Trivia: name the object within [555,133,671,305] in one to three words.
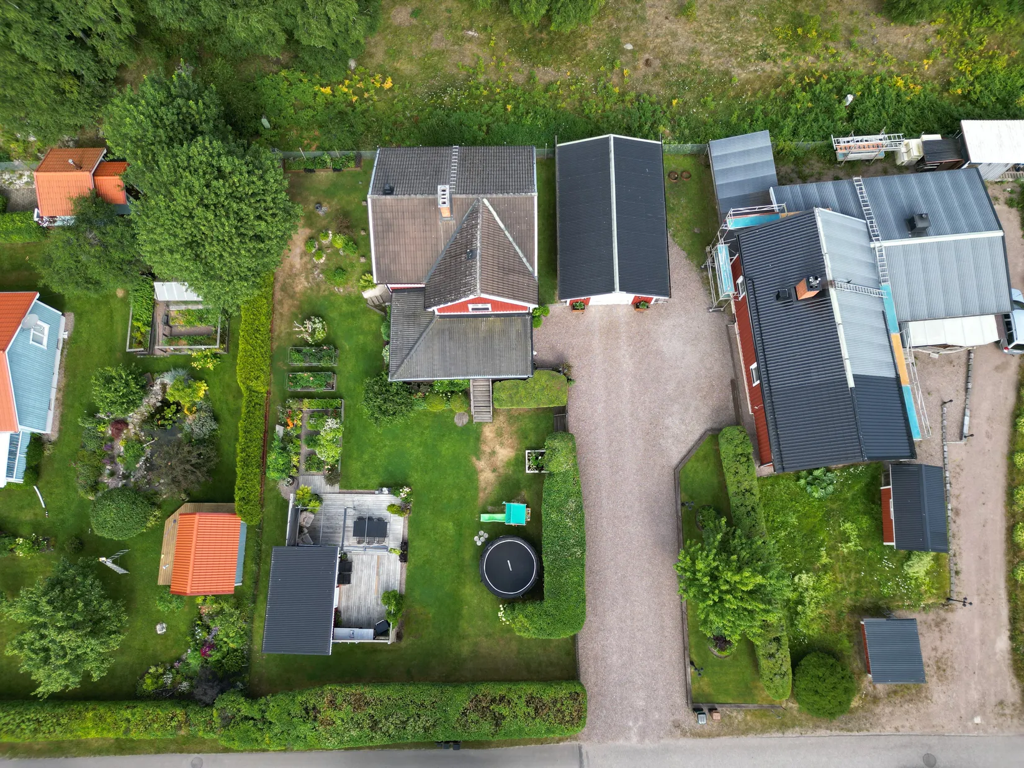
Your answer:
building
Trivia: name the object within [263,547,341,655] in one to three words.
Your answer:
shed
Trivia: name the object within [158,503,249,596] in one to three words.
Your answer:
building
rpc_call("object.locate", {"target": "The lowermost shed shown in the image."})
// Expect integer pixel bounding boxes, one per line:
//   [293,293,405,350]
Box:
[851,618,926,683]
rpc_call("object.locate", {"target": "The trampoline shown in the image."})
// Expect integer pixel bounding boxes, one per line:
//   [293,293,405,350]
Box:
[477,533,543,603]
